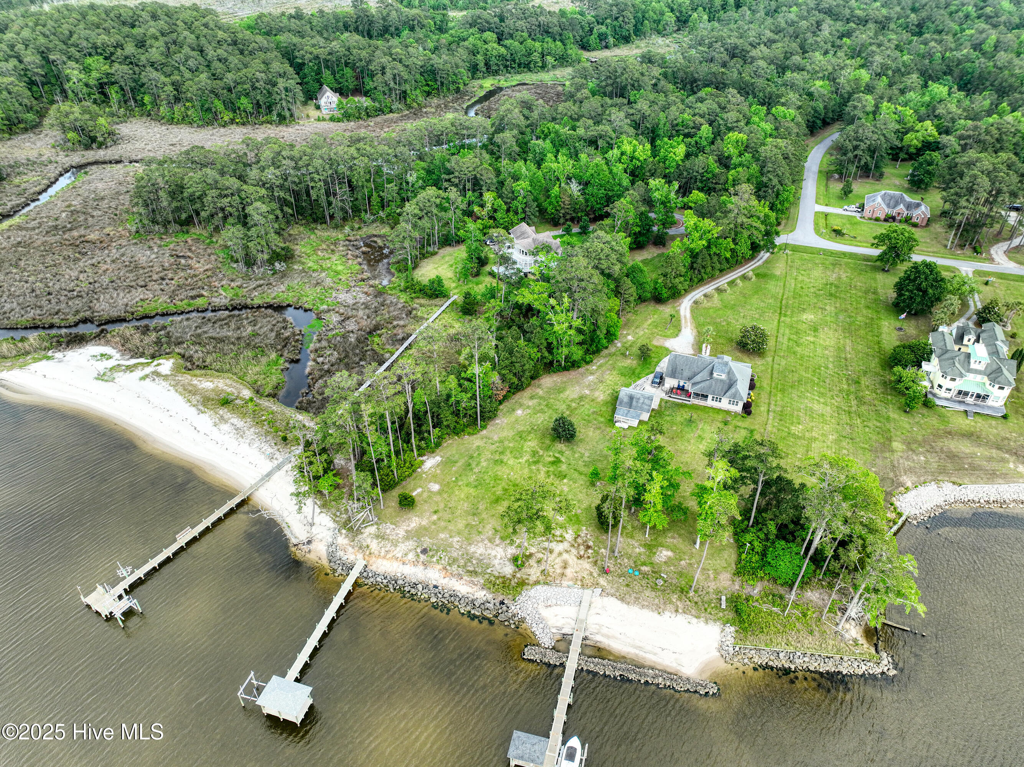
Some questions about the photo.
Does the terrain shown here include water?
Yes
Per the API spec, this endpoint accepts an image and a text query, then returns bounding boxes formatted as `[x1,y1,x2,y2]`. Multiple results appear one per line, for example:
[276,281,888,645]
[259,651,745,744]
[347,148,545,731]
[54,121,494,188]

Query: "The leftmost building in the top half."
[316,86,343,115]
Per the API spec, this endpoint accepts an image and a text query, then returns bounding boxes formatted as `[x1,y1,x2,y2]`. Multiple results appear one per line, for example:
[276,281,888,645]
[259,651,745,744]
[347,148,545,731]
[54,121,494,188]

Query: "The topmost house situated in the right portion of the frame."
[864,192,930,225]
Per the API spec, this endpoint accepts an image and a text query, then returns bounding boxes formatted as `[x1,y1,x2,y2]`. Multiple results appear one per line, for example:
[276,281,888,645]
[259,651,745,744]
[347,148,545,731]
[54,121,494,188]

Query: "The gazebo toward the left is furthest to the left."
[248,665,315,726]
